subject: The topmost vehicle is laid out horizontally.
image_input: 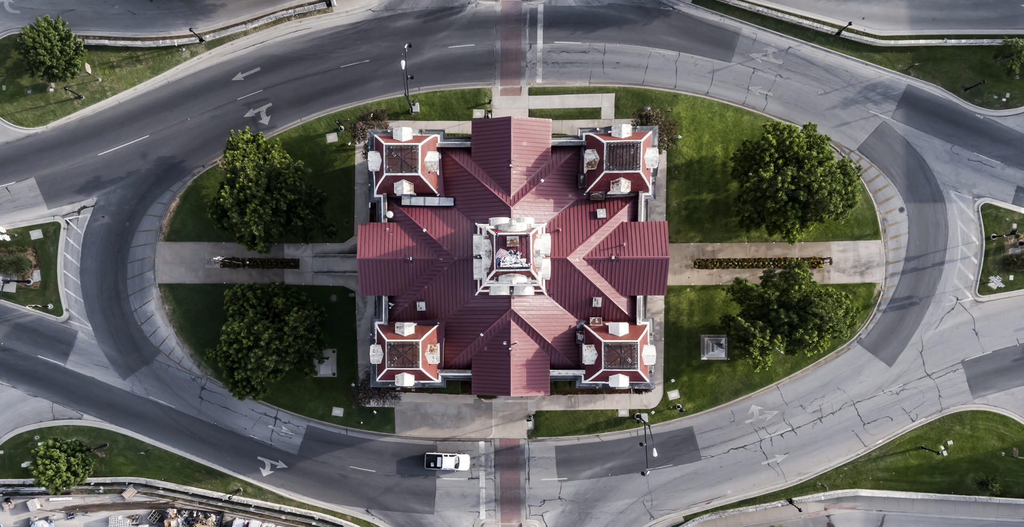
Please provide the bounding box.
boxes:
[423,453,470,472]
